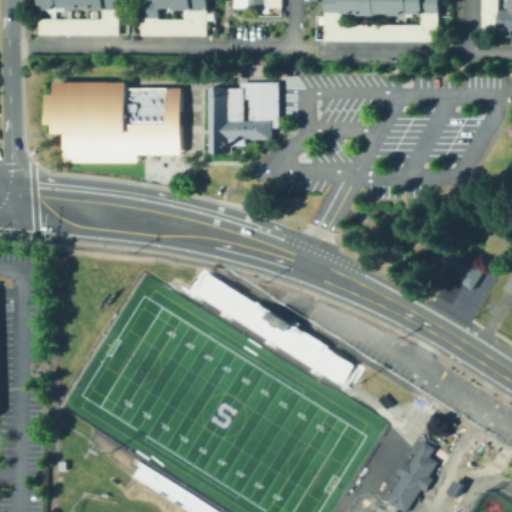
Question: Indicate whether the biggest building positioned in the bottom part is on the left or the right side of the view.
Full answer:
It is on the right.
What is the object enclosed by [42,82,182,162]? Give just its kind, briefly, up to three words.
building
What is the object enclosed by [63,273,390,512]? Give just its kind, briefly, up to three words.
sports field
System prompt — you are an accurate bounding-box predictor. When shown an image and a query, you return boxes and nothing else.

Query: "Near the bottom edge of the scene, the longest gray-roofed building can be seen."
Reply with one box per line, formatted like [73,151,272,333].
[386,439,438,507]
